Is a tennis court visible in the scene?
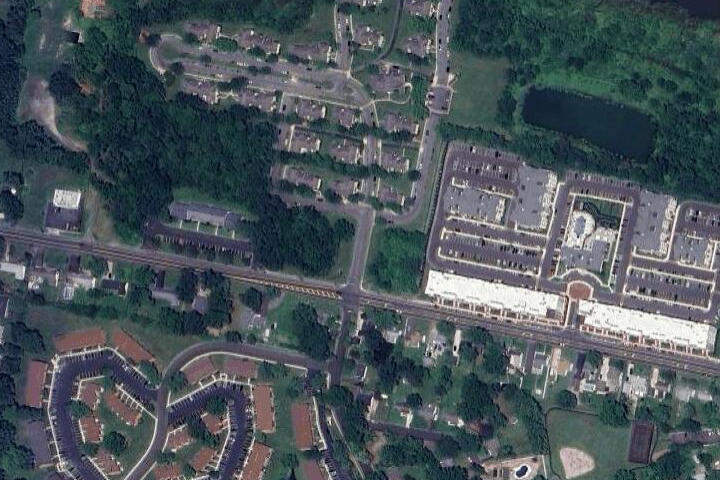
Yes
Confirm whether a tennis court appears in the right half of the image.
Yes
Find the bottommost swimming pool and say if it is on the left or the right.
right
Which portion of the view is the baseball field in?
bottom right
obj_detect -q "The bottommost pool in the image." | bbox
[482,456,541,480]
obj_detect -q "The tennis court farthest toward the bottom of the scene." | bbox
[627,420,656,464]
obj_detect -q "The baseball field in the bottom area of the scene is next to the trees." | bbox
[550,411,627,480]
